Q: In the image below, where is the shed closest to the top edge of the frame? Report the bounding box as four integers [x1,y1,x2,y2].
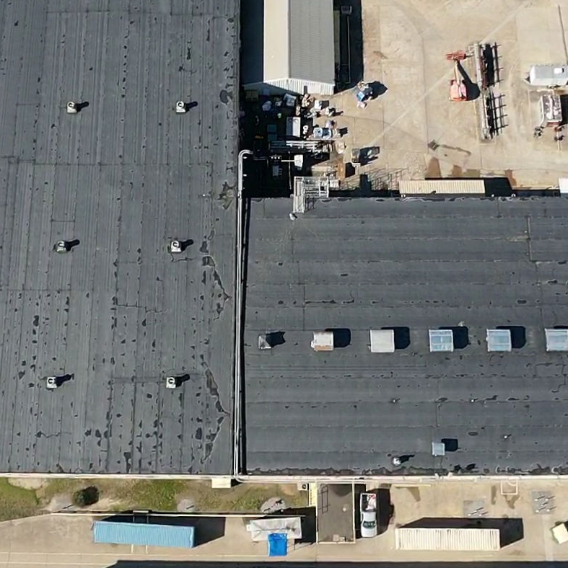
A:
[244,0,335,97]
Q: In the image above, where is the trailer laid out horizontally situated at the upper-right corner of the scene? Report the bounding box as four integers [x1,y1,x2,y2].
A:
[516,67,568,89]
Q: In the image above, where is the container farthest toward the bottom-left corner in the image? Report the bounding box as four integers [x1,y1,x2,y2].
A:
[93,521,198,548]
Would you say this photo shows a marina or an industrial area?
industrial area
